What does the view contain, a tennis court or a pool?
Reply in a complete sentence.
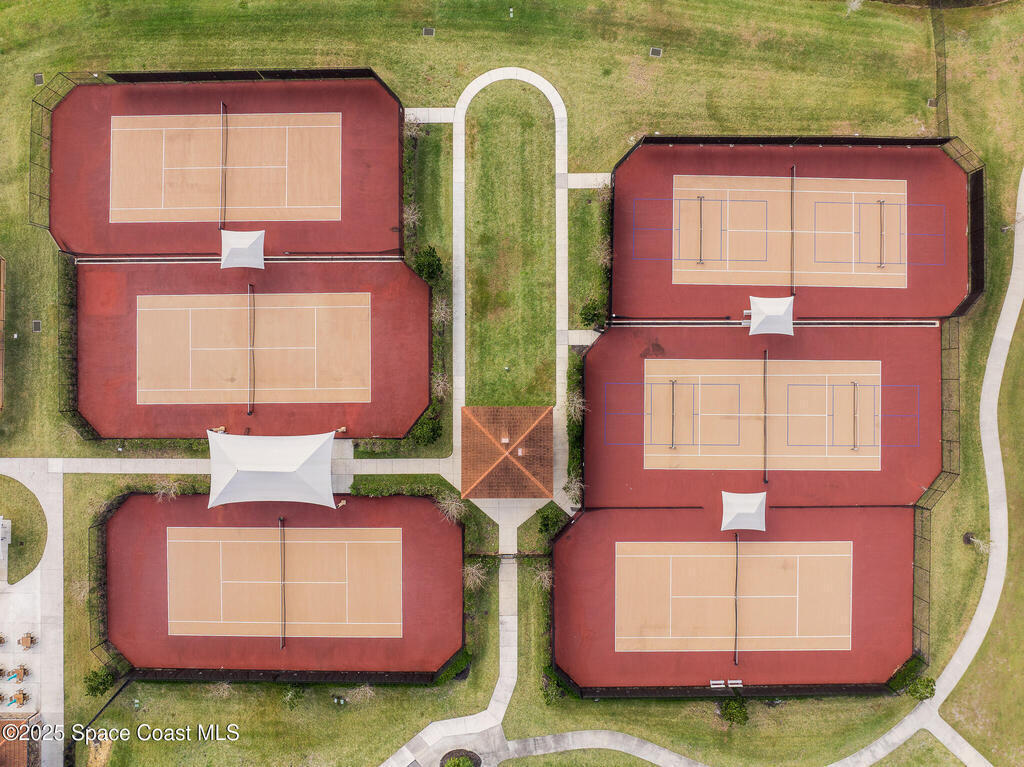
Visible in the photo is a tennis court.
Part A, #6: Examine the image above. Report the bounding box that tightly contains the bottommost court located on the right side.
[554,507,914,686]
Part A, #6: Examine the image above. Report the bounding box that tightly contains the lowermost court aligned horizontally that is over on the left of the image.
[106,494,461,671]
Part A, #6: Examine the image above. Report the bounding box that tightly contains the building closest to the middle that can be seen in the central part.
[461,406,554,500]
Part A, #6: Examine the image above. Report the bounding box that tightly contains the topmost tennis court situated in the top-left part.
[49,80,401,258]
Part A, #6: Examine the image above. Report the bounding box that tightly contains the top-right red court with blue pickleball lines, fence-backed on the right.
[609,145,968,321]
